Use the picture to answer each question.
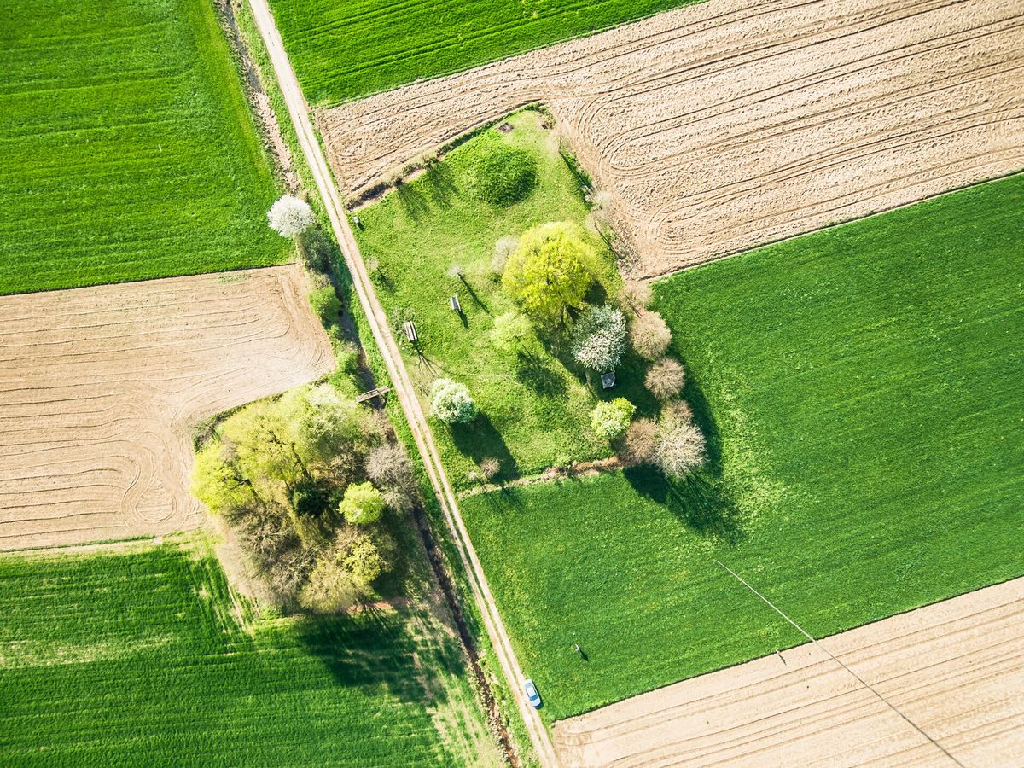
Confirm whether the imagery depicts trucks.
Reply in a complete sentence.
No, there's no truck here.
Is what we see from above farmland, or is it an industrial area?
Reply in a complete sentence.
This looks like farmland.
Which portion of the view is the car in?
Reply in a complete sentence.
The car sits in the bottom section of the image.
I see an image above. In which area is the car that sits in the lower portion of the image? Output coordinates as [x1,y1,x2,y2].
[521,678,543,709]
